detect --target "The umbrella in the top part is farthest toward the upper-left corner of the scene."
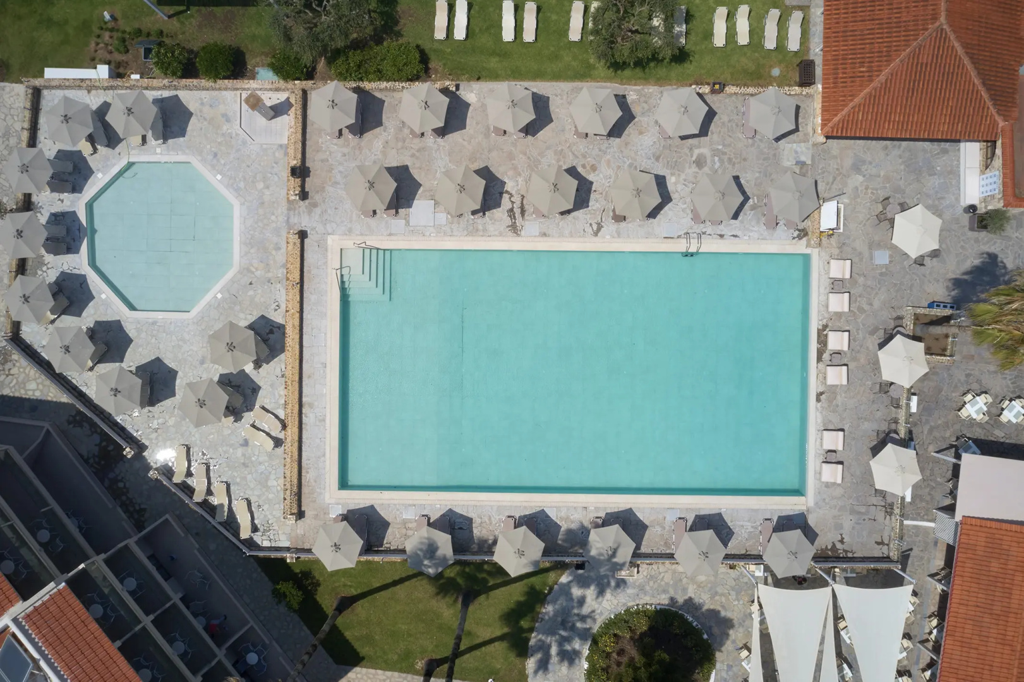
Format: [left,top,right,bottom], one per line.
[46,93,96,147]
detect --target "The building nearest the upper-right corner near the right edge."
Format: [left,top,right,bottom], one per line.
[815,0,1022,142]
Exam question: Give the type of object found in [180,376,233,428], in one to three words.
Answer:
umbrella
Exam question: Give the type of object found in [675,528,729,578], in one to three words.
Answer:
umbrella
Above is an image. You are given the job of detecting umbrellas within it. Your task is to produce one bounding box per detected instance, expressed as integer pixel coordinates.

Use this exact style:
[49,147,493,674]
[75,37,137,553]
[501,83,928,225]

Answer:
[46,93,96,147]
[746,87,794,142]
[569,86,623,136]
[610,169,663,221]
[435,164,487,217]
[869,439,921,492]
[876,331,928,385]
[0,212,56,261]
[582,522,636,574]
[400,80,452,134]
[768,171,820,224]
[527,163,579,217]
[486,81,537,135]
[675,528,729,578]
[107,89,160,139]
[689,174,744,222]
[655,88,709,138]
[3,146,61,194]
[889,205,941,259]
[180,376,233,428]
[404,520,455,574]
[761,527,815,578]
[45,324,99,372]
[210,319,259,374]
[311,519,364,571]
[345,163,399,213]
[310,82,360,136]
[492,524,545,577]
[97,364,147,419]
[5,275,61,324]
